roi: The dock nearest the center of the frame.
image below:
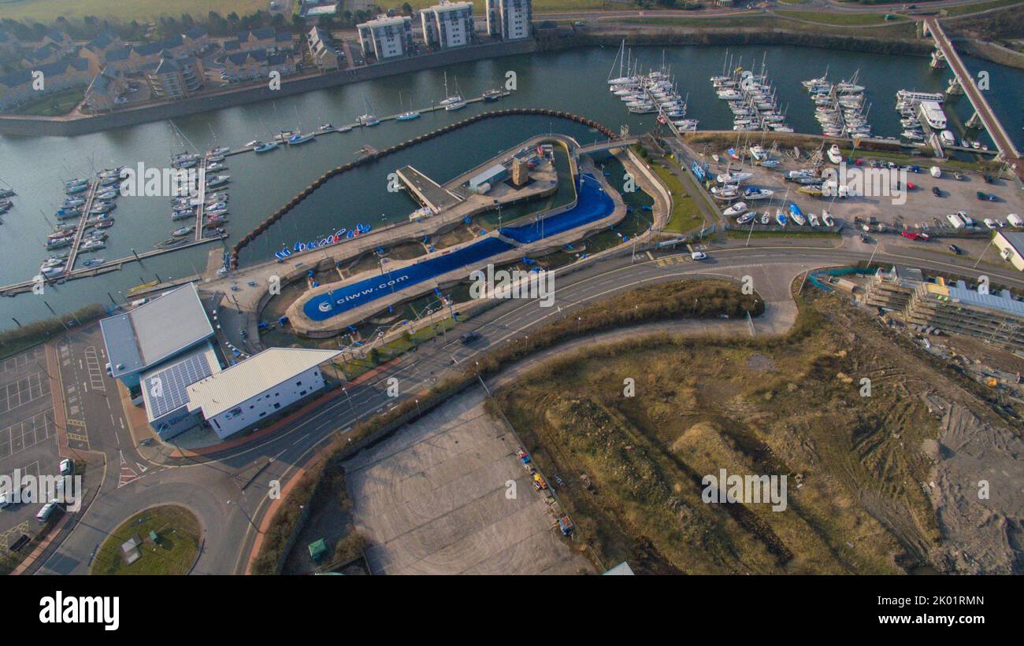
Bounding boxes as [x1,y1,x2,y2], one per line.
[395,164,464,213]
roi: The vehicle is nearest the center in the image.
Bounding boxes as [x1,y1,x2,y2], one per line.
[458,327,479,345]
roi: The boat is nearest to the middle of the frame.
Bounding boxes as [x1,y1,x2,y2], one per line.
[409,206,433,220]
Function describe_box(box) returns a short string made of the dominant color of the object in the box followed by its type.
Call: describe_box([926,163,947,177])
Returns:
white camper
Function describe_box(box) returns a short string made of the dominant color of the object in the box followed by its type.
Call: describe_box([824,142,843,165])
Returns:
white boat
